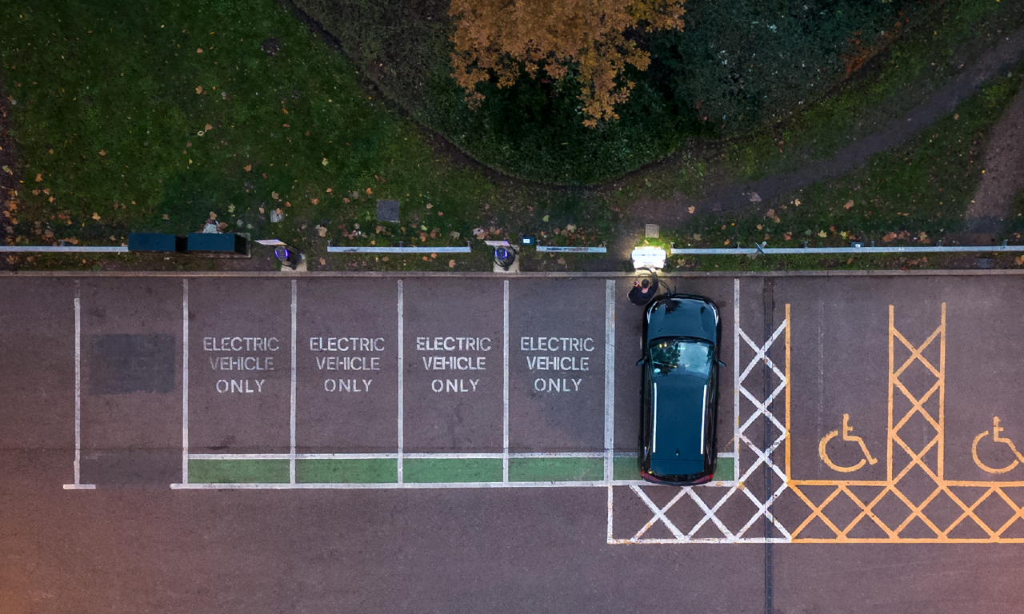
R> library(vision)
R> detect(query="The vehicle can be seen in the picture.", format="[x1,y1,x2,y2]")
[631,284,731,487]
